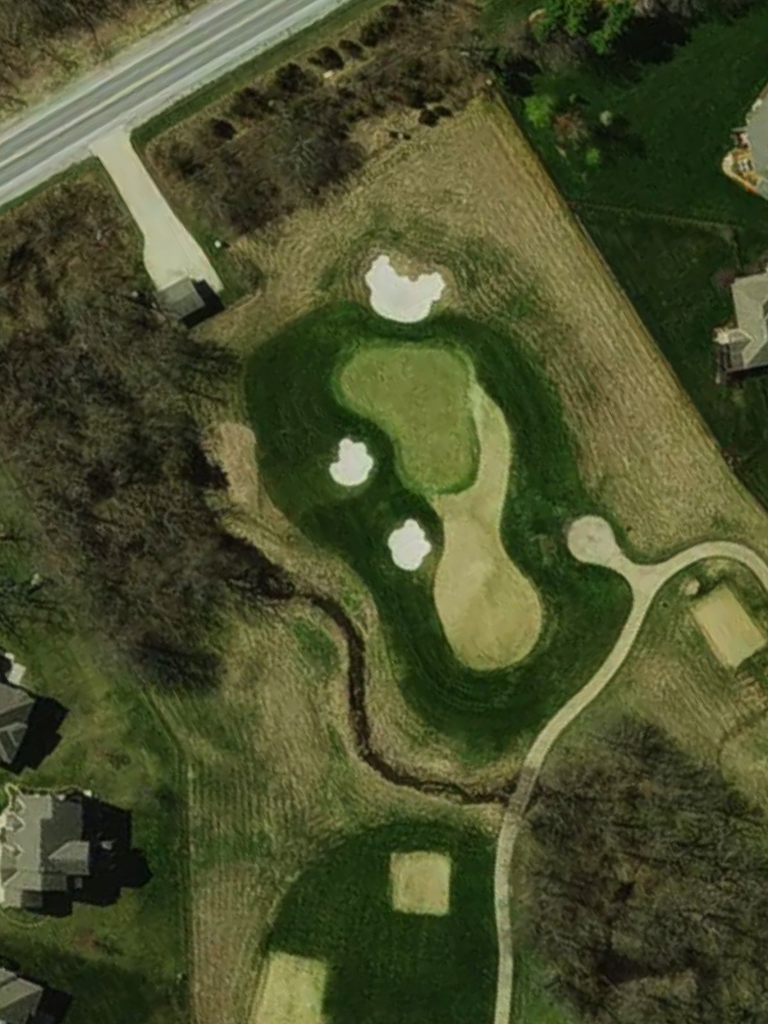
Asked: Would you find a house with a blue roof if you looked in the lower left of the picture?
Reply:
No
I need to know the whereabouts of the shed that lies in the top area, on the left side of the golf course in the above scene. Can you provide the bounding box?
[157,277,203,322]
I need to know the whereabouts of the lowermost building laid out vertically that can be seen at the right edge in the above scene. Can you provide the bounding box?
[723,277,768,375]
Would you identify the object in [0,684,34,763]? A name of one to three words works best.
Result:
house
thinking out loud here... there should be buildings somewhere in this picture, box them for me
[0,684,34,763]
[0,794,109,908]
[157,277,203,322]
[734,82,768,199]
[0,960,43,1024]
[723,277,768,375]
